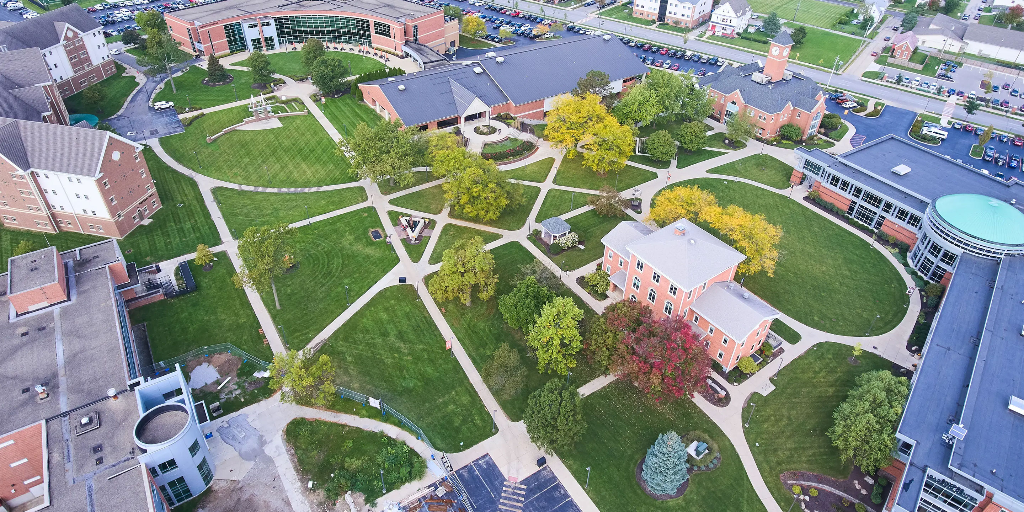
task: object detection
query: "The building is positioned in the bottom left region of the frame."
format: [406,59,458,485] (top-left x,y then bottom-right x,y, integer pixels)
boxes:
[0,238,227,512]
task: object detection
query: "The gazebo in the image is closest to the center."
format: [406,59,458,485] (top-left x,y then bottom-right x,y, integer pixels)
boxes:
[541,214,572,241]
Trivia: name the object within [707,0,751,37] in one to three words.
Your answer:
house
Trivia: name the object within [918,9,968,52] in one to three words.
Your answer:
building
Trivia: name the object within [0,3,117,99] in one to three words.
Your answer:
building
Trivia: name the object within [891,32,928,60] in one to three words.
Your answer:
house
